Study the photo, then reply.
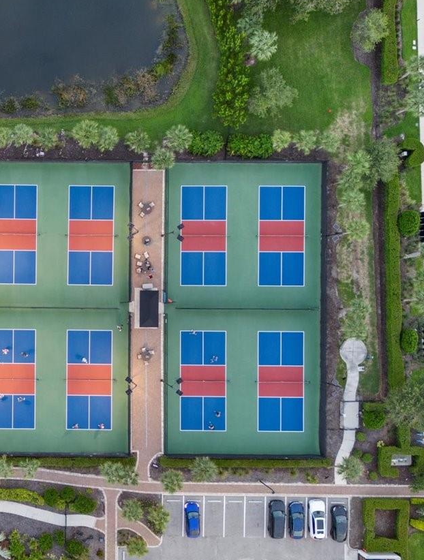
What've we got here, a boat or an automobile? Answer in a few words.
automobile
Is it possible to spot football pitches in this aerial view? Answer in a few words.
No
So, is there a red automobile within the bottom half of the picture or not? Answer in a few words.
No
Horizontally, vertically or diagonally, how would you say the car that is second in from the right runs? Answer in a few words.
vertically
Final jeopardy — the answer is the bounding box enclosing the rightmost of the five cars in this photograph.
[329,505,349,541]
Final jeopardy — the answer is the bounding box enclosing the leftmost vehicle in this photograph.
[183,501,200,537]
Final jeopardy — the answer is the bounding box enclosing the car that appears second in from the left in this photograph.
[267,499,287,538]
